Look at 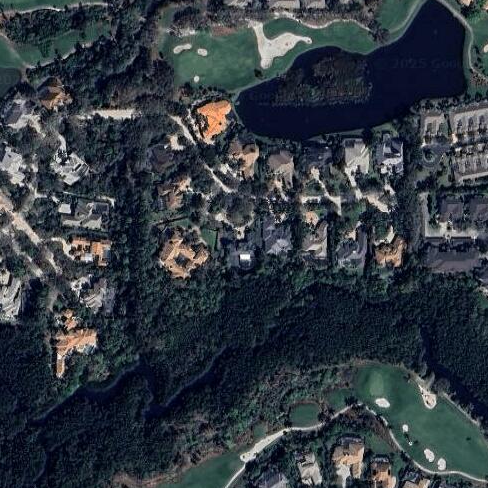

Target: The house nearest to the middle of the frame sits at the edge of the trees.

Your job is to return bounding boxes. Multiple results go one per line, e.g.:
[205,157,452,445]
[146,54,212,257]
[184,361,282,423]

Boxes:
[229,231,253,256]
